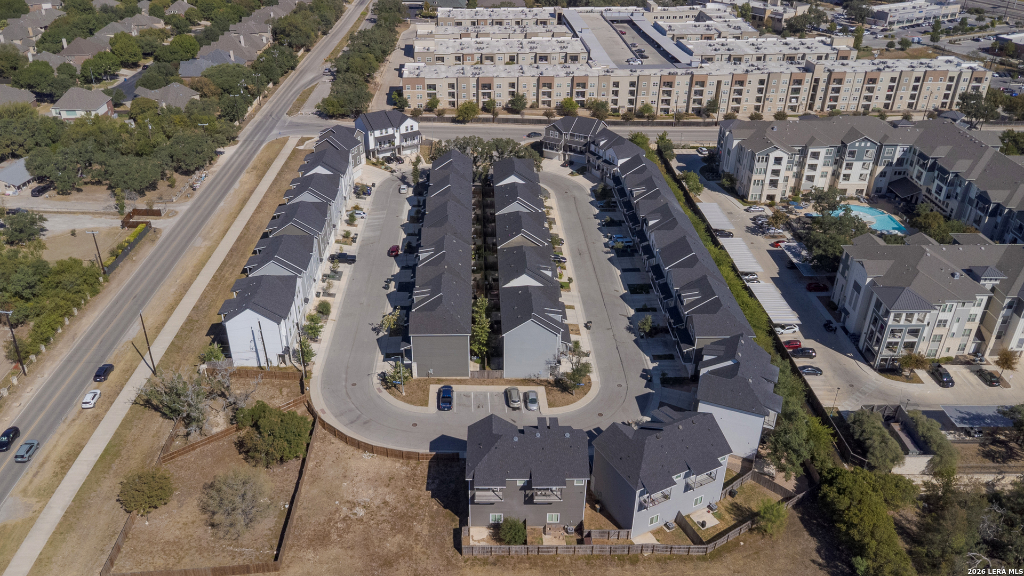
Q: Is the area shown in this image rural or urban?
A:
urban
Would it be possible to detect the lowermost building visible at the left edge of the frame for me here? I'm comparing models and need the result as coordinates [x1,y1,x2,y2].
[0,156,34,192]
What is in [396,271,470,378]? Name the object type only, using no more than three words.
house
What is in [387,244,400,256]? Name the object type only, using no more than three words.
vehicle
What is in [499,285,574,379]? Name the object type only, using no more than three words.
house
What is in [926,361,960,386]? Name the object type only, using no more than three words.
truck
